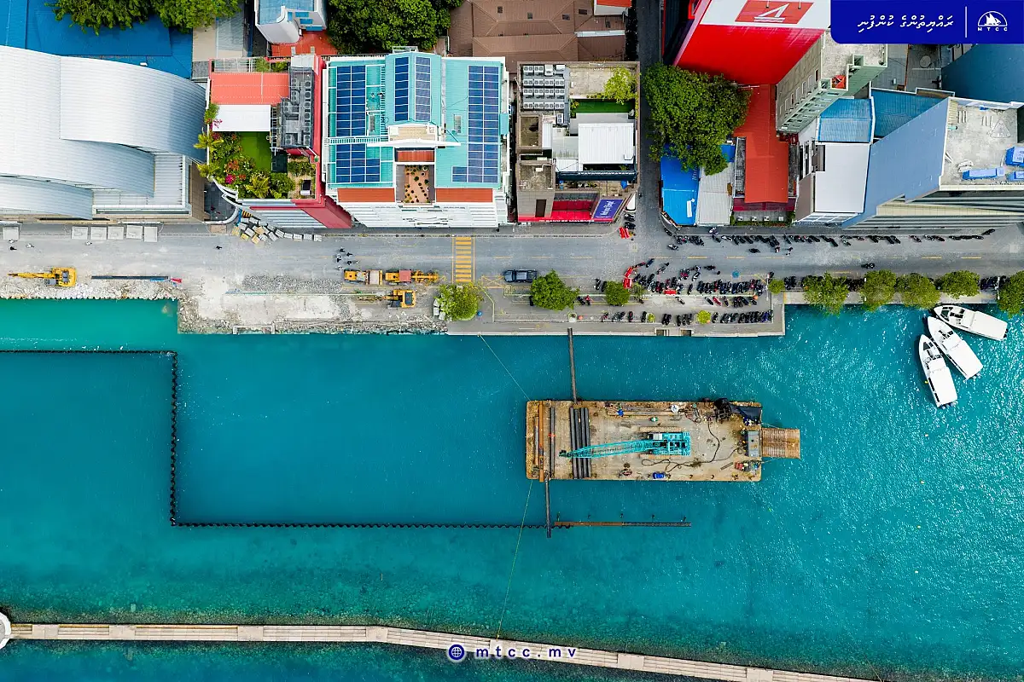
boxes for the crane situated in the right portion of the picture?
[554,431,696,459]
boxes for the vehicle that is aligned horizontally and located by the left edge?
[12,267,73,286]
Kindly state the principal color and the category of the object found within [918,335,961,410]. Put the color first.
white boat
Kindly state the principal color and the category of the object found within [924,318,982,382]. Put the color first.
white boat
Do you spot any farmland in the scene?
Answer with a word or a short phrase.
No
